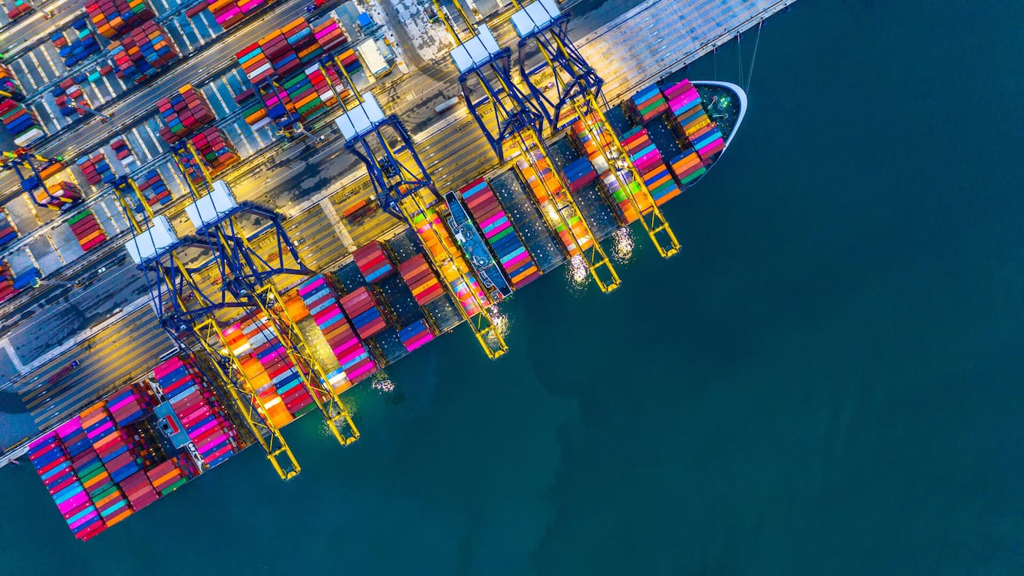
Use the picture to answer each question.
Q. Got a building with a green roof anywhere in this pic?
No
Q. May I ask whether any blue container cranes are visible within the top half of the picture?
Yes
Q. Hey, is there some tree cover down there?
No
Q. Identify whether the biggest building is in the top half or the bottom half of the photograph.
top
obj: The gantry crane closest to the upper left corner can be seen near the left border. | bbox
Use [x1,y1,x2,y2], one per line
[9,151,87,213]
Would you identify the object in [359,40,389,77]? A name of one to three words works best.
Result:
building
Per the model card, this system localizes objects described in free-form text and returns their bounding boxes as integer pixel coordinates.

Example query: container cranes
[251,71,318,142]
[102,172,299,482]
[313,49,507,359]
[513,0,682,256]
[9,151,87,213]
[165,135,361,445]
[429,0,621,292]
